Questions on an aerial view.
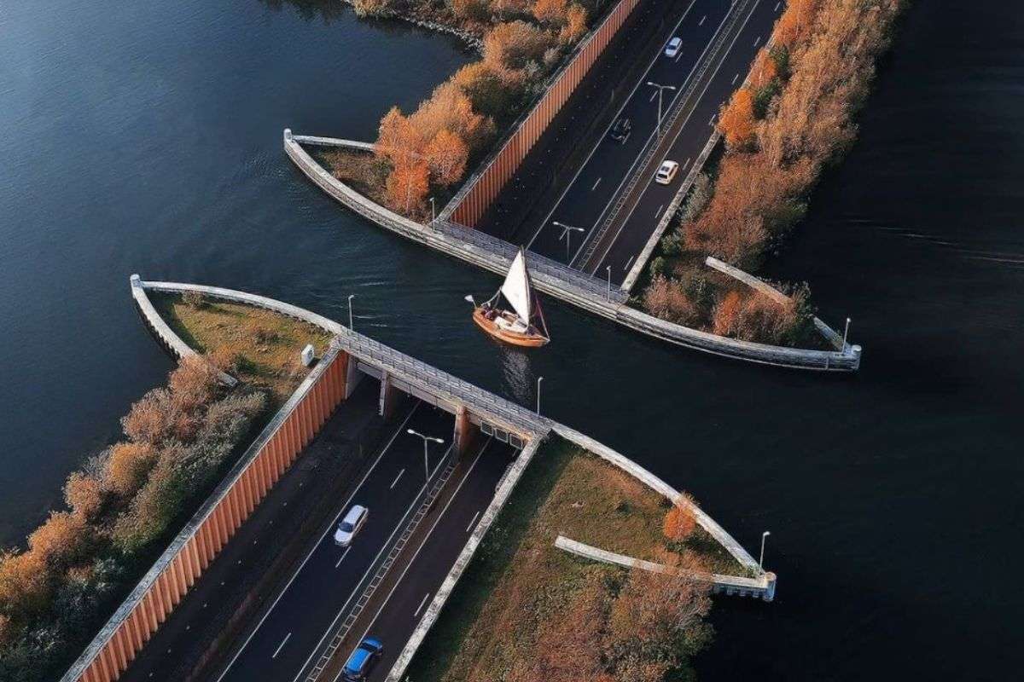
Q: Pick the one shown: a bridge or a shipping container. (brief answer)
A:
bridge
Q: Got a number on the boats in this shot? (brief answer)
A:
1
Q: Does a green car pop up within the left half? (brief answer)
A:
No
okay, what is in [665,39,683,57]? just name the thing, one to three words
car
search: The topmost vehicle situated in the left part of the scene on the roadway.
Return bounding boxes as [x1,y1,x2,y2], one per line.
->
[334,507,367,548]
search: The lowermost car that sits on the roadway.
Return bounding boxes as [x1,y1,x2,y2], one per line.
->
[343,638,379,682]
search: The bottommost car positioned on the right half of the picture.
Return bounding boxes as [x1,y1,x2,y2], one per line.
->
[656,162,678,186]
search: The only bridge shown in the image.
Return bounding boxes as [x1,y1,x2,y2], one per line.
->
[337,221,628,449]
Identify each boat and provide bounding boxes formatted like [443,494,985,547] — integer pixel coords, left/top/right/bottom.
[465,249,551,347]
